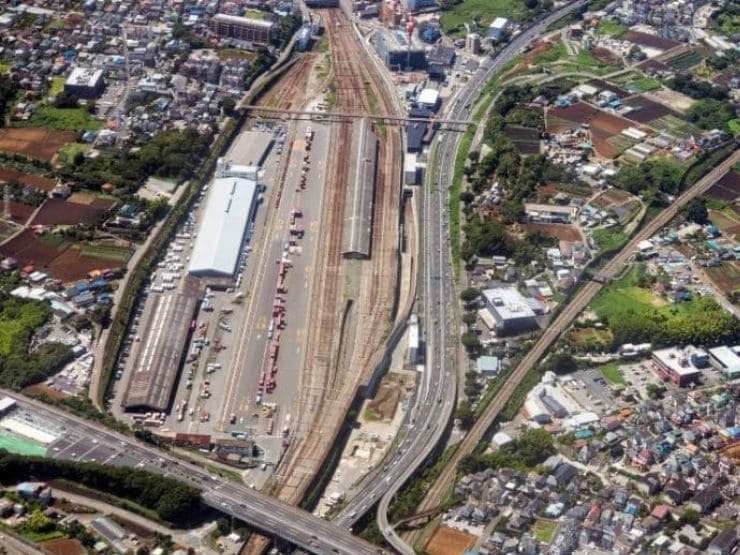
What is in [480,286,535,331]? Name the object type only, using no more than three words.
building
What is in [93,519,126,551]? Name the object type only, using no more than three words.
shed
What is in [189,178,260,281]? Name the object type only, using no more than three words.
shed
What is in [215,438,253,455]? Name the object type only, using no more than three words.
building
